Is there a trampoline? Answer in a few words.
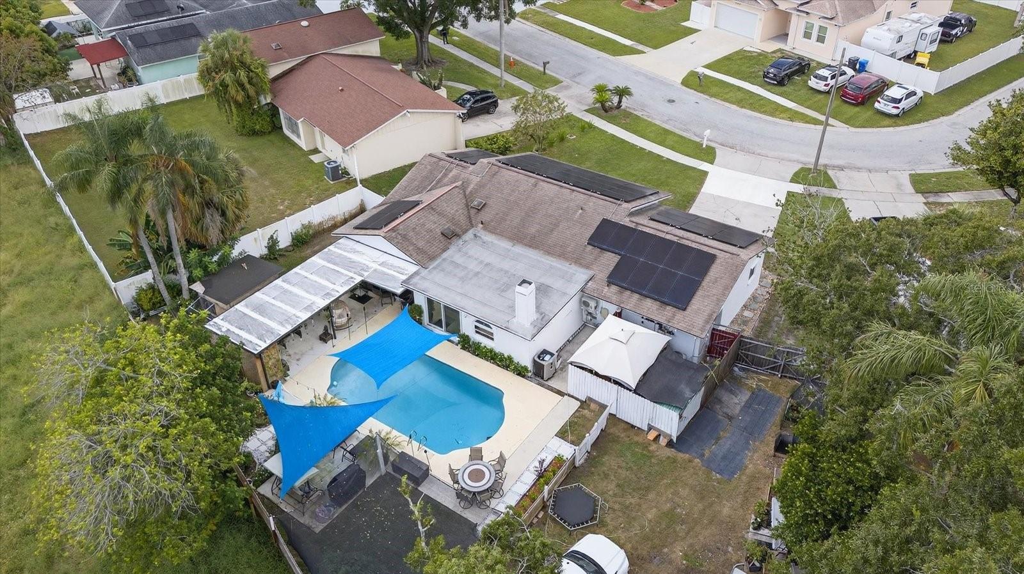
Yes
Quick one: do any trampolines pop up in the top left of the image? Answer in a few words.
No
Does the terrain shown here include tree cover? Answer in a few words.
Yes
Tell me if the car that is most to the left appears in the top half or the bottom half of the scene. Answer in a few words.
top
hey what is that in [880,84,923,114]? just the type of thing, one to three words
car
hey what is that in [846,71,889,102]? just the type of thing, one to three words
car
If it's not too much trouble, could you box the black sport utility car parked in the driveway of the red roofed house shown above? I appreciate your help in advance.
[451,86,505,121]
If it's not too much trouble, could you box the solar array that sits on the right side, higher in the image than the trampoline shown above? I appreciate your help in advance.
[587,216,717,309]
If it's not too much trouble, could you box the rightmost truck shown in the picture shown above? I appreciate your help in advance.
[939,17,975,41]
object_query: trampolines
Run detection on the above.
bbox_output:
[547,484,609,536]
